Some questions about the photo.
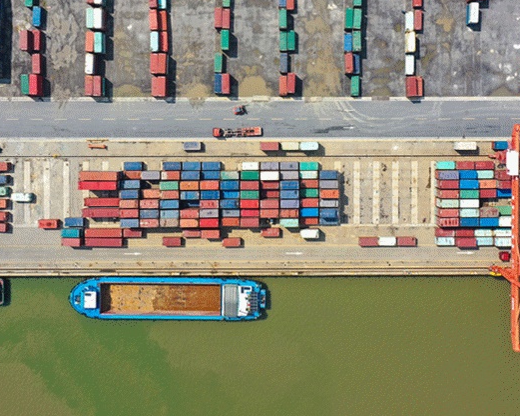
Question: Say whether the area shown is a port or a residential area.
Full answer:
This looks like a port.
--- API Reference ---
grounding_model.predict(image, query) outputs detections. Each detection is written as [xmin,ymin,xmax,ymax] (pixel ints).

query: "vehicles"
[212,127,262,138]
[500,252,511,263]
[234,106,247,114]
[8,193,33,203]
